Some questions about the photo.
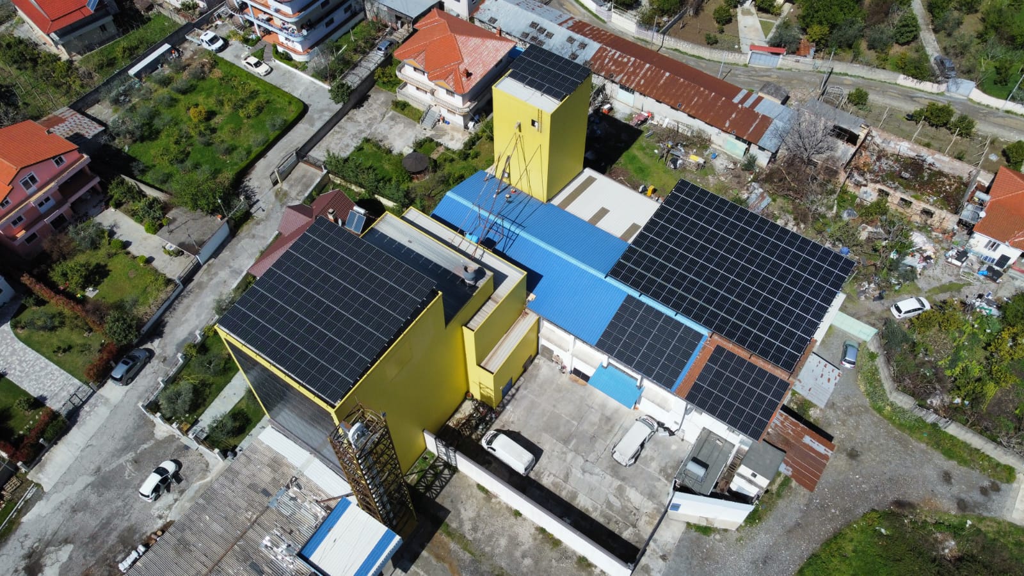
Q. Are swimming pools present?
No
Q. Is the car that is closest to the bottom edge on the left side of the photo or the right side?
left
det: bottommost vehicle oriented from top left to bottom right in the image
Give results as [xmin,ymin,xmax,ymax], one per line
[480,429,537,476]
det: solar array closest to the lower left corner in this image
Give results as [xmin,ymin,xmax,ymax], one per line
[222,217,436,405]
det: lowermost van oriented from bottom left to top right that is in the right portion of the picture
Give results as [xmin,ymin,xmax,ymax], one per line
[613,413,660,463]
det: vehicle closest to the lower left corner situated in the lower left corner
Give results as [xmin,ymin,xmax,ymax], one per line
[134,457,182,502]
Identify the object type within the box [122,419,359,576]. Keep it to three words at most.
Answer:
shed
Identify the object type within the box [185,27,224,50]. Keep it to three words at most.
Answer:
truck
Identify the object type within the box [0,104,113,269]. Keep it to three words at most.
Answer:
house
